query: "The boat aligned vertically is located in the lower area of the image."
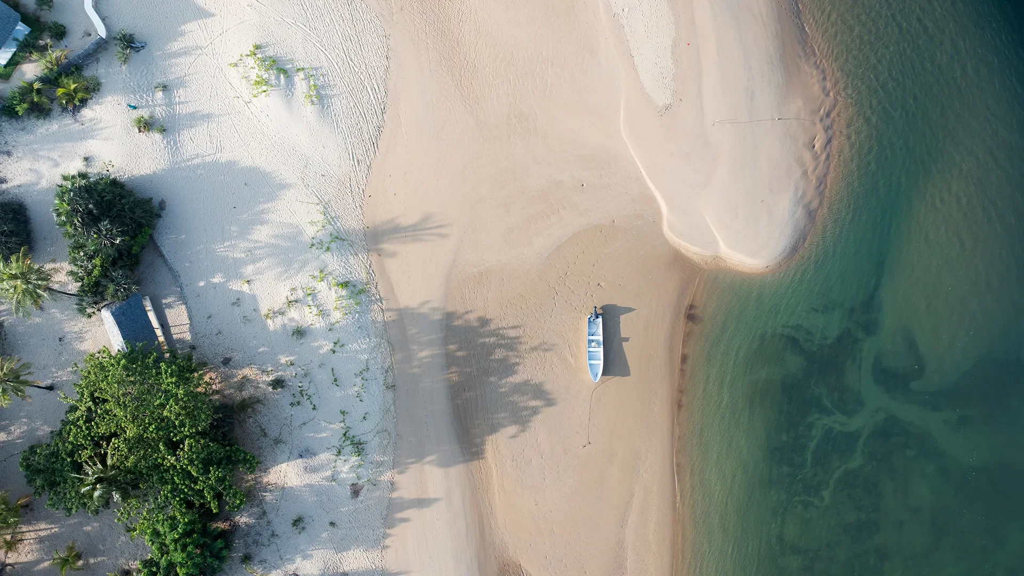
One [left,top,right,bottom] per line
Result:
[588,317,605,383]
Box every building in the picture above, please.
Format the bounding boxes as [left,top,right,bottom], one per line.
[0,3,22,59]
[90,293,171,368]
